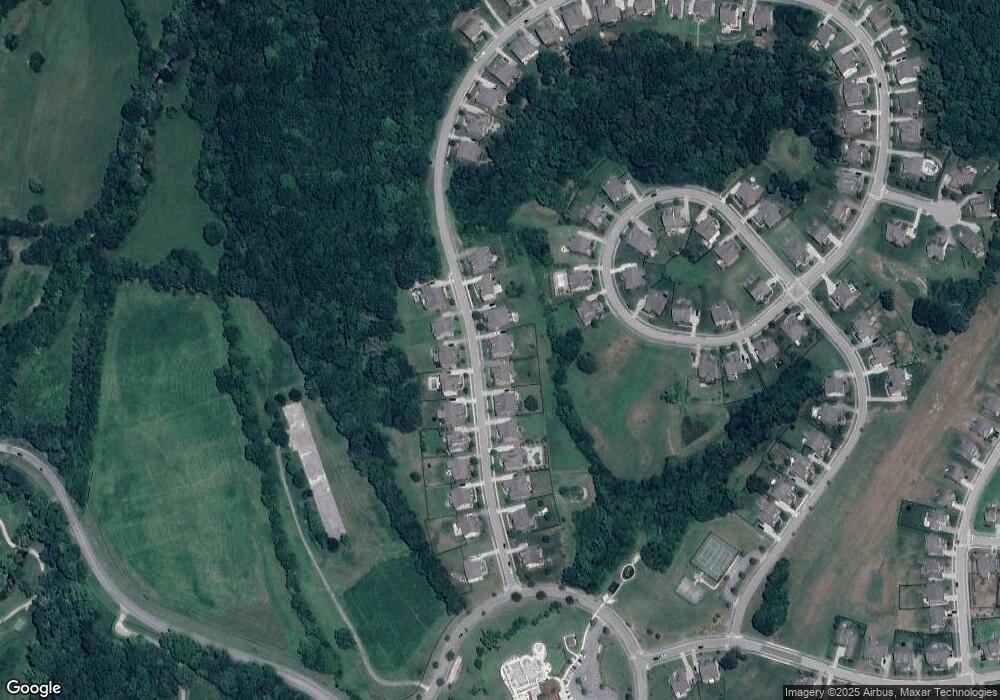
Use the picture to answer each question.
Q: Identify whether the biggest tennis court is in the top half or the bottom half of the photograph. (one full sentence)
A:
The bottom half of the photo is where the biggest tennis court is.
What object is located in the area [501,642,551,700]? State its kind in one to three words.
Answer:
swimming pool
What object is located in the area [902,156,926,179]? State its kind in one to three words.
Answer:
house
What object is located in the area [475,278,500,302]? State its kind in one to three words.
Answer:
house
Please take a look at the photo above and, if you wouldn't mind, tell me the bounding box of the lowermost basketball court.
[676,578,705,604]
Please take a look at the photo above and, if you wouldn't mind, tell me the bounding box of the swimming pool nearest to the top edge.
[924,160,938,176]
